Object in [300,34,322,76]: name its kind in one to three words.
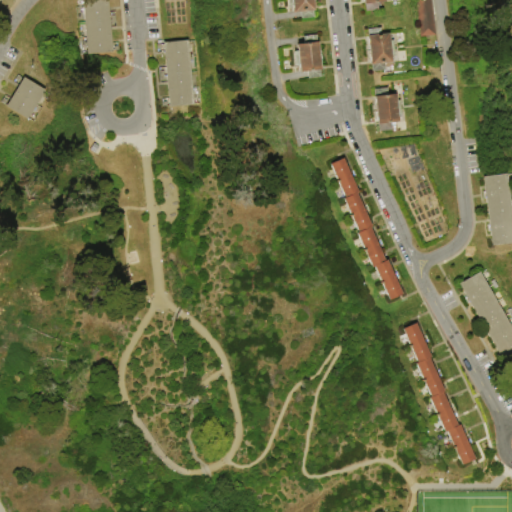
house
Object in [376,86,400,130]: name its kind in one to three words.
house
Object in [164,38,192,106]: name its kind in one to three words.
building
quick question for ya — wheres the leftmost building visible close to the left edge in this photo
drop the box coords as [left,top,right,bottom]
[7,76,44,118]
